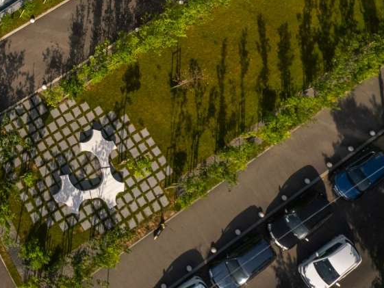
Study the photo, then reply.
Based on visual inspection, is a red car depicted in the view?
No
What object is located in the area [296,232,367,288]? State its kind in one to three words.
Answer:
car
